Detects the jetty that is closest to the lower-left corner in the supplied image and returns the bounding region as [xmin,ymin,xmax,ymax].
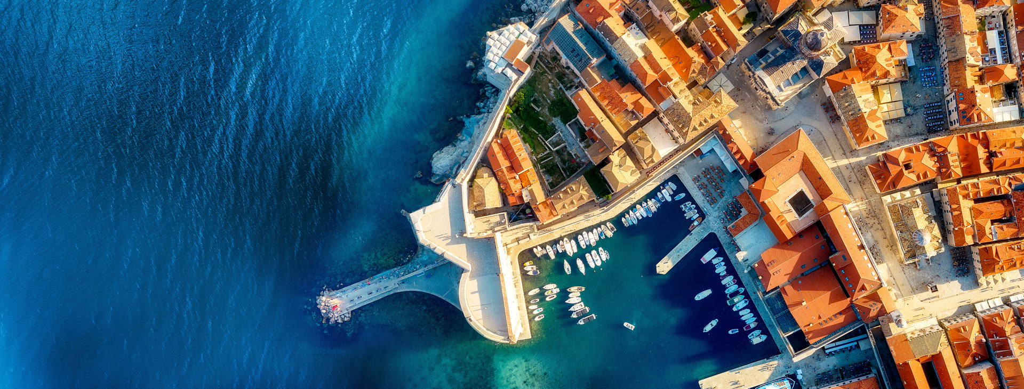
[330,250,463,315]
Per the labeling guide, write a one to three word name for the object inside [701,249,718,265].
boat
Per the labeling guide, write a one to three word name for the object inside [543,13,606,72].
building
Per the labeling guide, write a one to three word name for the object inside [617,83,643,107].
house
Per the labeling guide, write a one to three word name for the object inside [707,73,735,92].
umbrella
